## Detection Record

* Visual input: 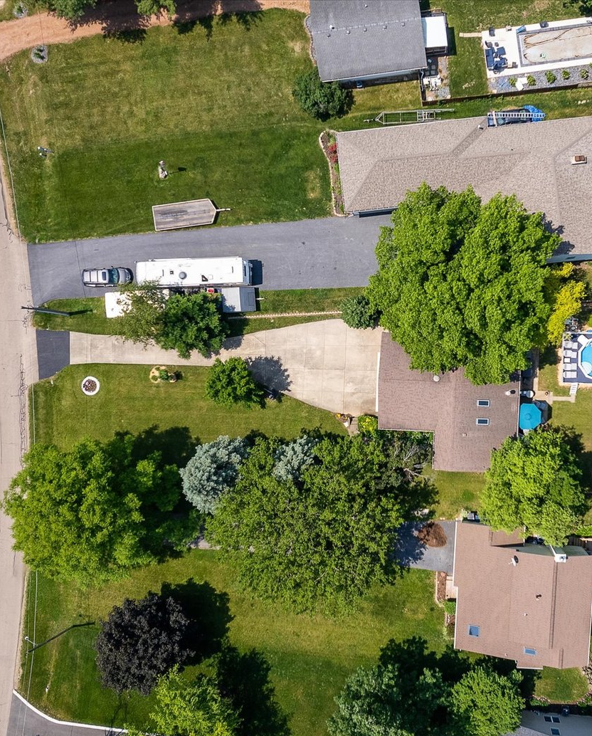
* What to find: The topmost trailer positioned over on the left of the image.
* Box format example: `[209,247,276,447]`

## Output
[148,197,228,229]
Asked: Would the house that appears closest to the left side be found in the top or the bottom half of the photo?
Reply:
top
